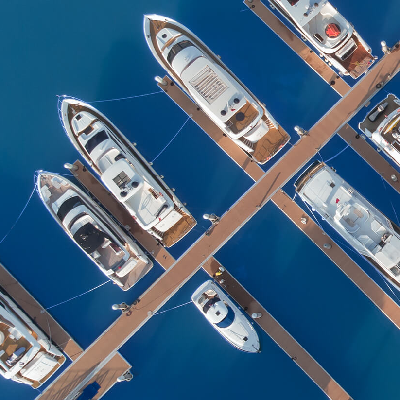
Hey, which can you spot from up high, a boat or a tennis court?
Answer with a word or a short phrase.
boat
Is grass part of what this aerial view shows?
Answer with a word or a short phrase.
No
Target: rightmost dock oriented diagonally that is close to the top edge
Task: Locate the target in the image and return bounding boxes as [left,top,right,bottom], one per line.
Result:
[242,0,351,97]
